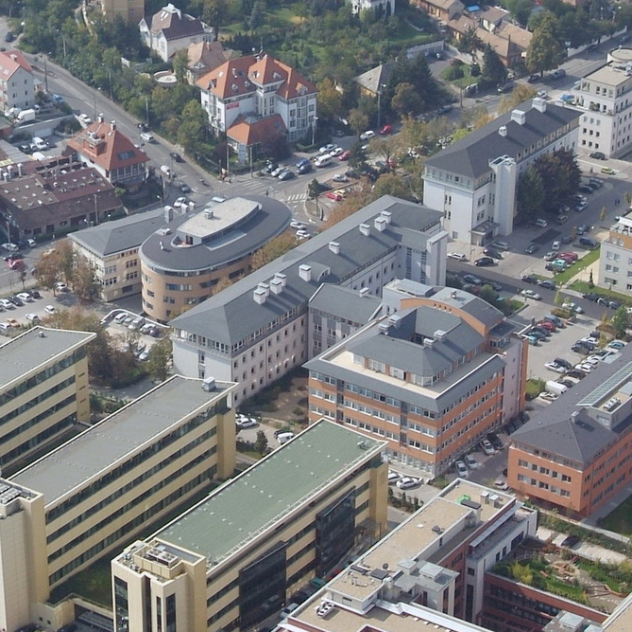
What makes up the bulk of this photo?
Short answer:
buildings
